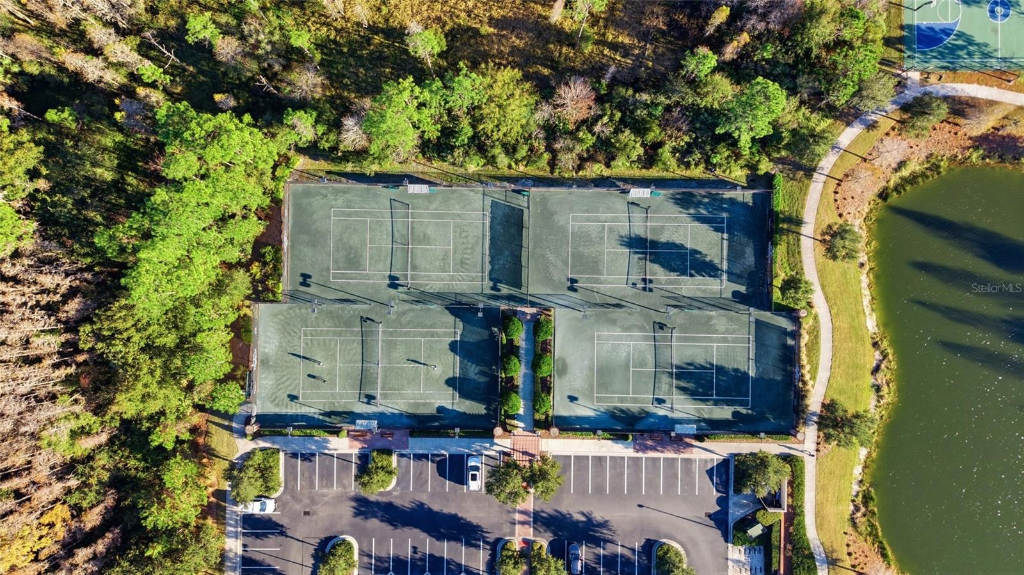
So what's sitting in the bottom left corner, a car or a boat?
car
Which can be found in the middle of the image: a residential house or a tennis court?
tennis court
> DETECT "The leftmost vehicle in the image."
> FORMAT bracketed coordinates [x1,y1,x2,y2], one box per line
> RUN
[241,500,274,516]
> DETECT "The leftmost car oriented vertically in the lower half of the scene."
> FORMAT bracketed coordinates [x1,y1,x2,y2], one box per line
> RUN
[466,457,482,491]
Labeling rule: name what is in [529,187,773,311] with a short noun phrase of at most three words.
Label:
tennis court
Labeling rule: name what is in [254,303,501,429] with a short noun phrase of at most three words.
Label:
tennis court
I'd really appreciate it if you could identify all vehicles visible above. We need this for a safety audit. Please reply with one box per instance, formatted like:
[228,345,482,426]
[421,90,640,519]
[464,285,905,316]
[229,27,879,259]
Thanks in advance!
[466,457,482,491]
[568,544,584,575]
[241,500,274,516]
